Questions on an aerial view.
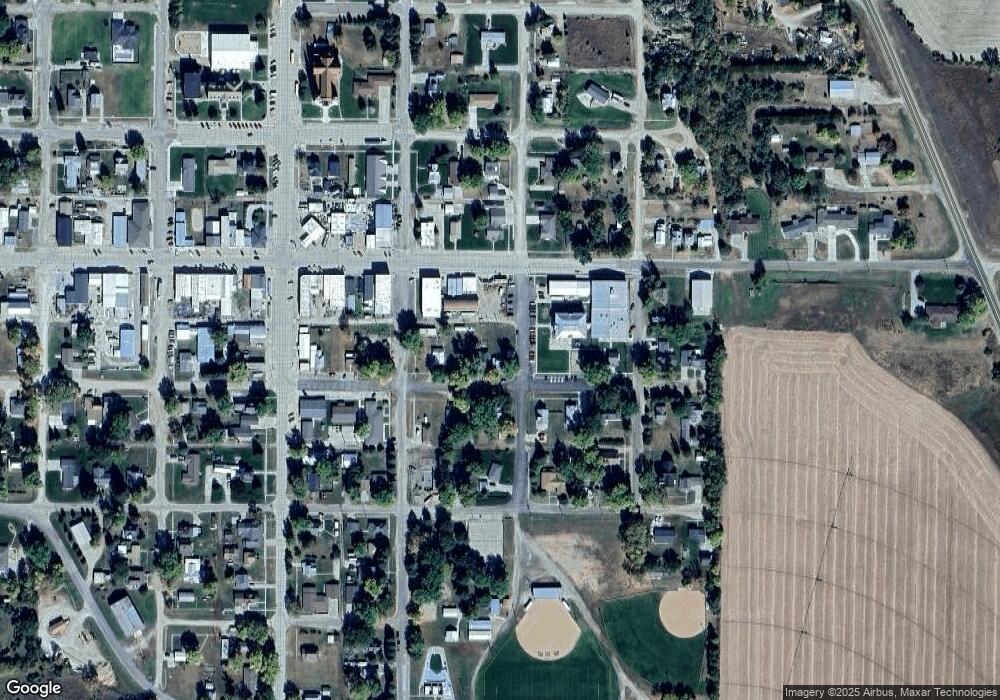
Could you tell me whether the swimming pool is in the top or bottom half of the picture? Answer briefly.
bottom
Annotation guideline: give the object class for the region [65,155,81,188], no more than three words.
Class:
house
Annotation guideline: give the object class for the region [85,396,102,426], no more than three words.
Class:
house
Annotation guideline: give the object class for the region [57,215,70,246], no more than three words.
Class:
building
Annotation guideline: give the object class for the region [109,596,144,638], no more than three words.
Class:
barn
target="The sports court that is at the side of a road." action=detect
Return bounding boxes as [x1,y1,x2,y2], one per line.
[469,518,503,562]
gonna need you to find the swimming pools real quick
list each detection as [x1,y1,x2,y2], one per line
[418,646,455,700]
